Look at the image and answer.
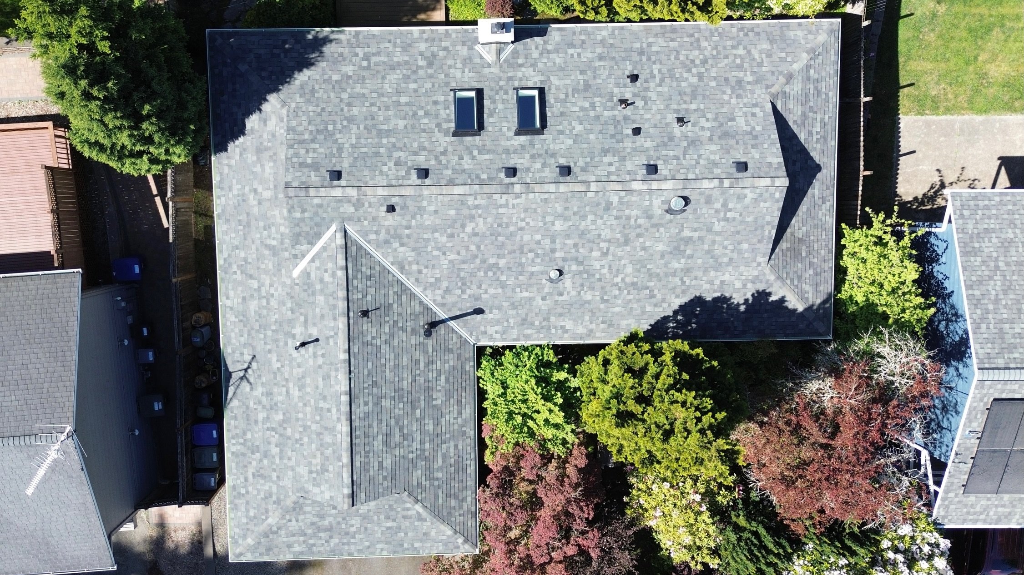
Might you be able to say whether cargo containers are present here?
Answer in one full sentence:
No, there's no cargo container here.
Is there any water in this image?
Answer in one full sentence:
No, there's no water in this view.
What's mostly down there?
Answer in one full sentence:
The scene is dominated by buildings.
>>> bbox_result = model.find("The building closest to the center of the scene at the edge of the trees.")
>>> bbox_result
[206,18,841,562]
